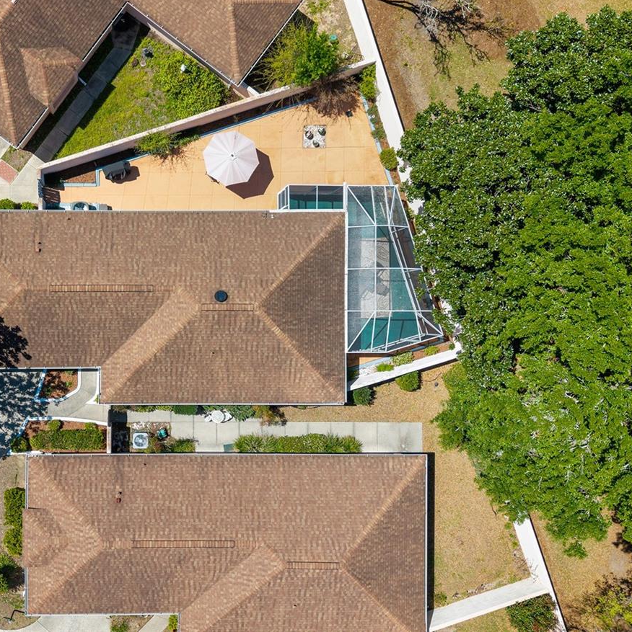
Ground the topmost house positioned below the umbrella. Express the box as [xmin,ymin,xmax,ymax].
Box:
[0,207,349,407]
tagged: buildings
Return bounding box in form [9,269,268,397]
[3,451,431,632]
[0,0,304,148]
[0,207,349,407]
